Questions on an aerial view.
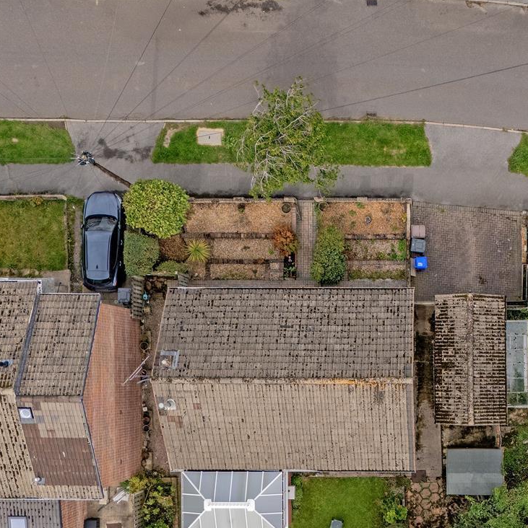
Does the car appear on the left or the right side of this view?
left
